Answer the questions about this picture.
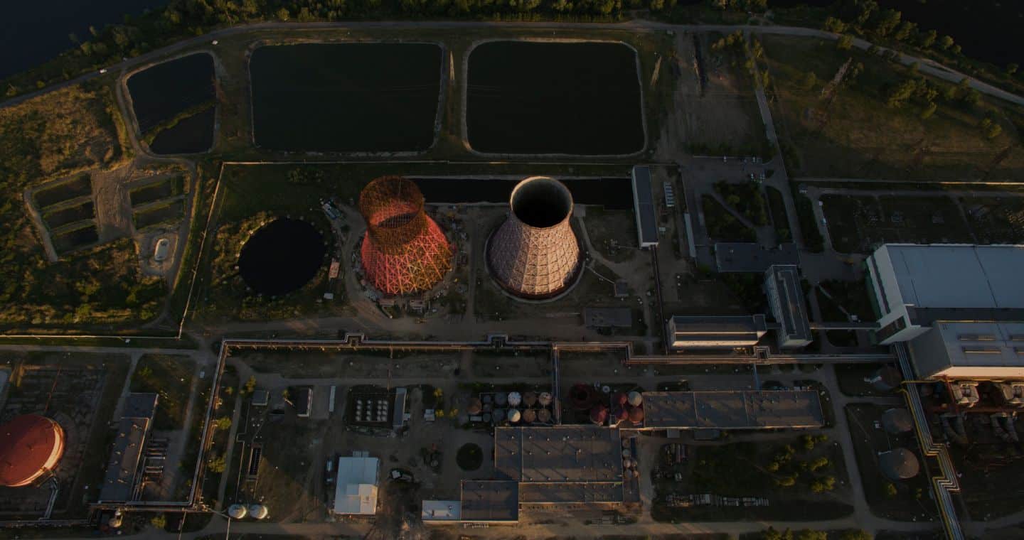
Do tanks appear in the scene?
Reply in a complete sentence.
Yes, a tank is visible in the scene.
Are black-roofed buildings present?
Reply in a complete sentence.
Yes, you can see a black-roofed building in this photo.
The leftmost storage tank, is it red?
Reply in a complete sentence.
Yes, red is the color of the leftmost storage tank.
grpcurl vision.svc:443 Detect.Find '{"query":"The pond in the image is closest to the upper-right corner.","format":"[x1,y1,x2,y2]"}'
[468,43,644,154]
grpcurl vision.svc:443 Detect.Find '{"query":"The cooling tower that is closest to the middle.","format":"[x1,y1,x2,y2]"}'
[484,175,589,301]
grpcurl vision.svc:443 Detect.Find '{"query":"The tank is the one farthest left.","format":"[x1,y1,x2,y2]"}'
[0,417,71,491]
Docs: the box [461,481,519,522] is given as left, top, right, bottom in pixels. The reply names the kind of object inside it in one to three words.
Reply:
building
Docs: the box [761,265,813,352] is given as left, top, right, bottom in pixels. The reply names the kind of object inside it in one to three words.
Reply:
building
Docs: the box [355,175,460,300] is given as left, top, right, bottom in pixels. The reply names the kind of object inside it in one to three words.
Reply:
cooling tower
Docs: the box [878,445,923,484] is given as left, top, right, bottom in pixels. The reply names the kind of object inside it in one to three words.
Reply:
storage tank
